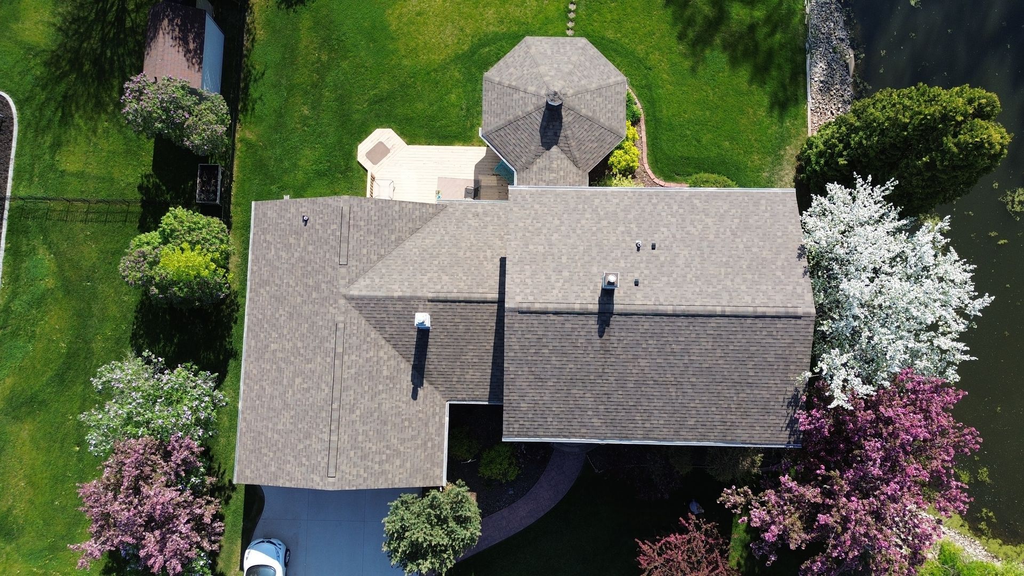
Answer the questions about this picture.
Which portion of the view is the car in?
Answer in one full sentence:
The car sits in the bottom left section of the image.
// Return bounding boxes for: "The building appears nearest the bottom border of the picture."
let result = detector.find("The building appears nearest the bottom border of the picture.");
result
[231,182,816,490]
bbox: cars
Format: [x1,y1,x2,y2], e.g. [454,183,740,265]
[241,538,291,576]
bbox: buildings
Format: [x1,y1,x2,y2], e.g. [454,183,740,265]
[231,182,816,490]
[146,0,224,109]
